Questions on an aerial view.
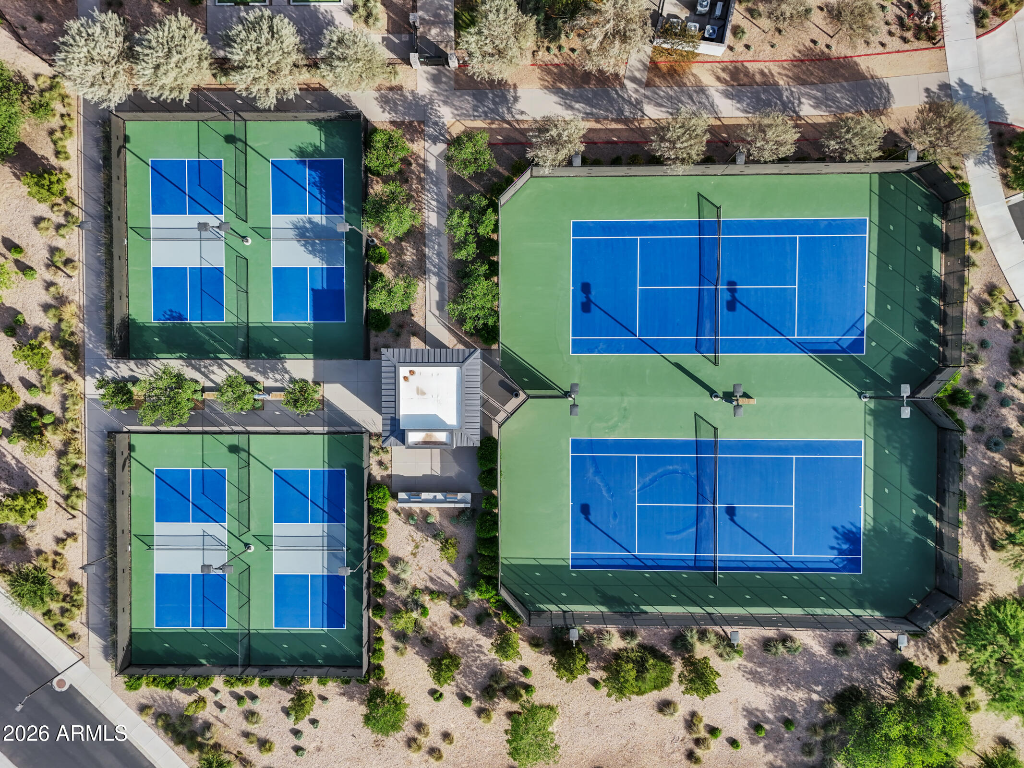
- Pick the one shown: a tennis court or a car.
tennis court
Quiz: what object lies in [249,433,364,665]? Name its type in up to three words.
sports court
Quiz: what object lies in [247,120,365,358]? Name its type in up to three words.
sports court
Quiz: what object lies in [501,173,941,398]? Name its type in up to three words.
tennis court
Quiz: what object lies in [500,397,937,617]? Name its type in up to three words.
tennis court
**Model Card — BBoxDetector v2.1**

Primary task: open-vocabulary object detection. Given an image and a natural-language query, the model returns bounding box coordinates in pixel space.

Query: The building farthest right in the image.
[380,348,481,449]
